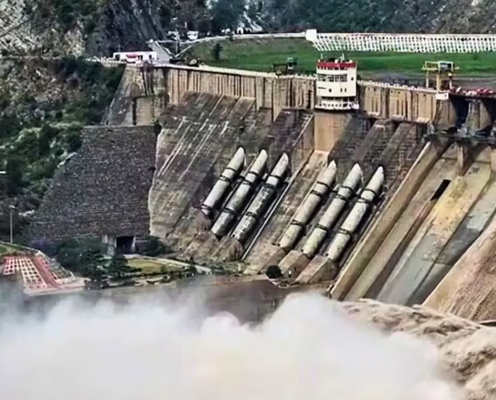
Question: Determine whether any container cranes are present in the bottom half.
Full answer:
No, I can find no container crane in the bottom half.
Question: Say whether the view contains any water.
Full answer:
Yes, some water is visible.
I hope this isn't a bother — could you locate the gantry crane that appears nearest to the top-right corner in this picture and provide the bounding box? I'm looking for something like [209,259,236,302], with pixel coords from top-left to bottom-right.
[431,59,466,92]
